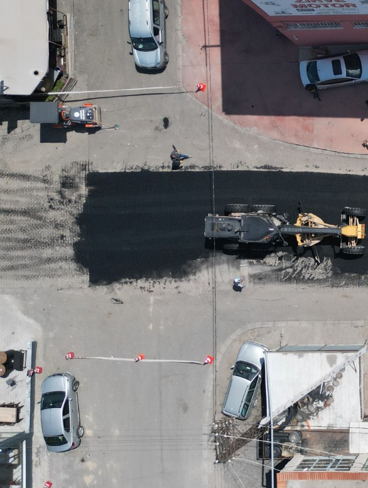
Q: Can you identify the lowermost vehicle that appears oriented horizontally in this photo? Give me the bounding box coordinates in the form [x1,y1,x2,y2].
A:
[204,203,367,263]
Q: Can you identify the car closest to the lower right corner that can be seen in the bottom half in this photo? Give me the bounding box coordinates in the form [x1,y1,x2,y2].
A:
[218,339,271,425]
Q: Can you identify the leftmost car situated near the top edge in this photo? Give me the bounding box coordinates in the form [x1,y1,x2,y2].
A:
[128,0,173,76]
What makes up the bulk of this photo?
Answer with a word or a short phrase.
paved ground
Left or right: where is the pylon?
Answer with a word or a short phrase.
right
